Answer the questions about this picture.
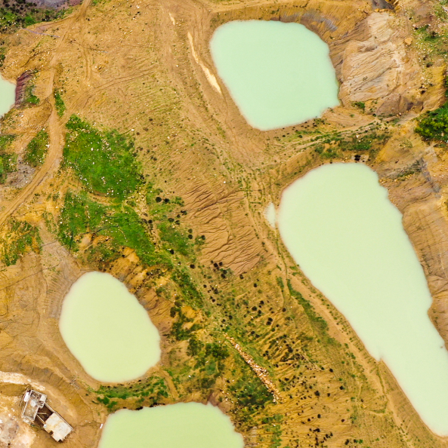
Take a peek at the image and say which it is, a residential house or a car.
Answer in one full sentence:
Of the two, only a residential house appears.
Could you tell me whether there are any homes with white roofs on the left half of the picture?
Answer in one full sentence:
Yes, looking on the left half of the picture, one can make out a home with a white roof.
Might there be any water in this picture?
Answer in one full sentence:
Yes, water shows up in the scene.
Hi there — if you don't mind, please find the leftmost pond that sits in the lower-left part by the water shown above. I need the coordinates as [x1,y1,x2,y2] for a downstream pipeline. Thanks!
[57,271,160,382]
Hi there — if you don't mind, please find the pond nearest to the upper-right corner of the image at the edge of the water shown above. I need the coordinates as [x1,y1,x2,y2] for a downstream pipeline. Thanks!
[209,19,341,131]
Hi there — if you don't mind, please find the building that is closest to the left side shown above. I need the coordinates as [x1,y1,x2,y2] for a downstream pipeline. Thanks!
[20,389,47,422]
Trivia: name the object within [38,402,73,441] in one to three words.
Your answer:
house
